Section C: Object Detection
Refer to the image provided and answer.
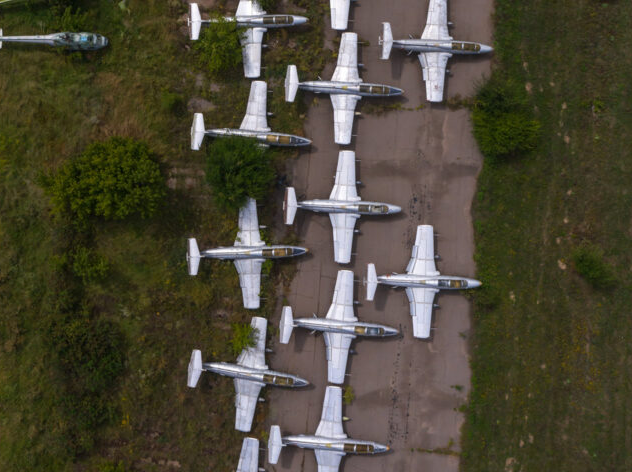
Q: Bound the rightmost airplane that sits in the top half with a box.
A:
[378,0,494,102]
